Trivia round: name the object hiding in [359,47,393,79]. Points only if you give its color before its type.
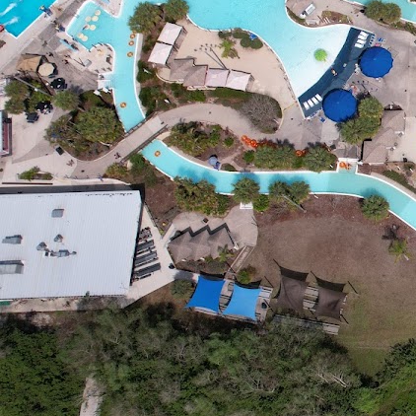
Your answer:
blue umbrella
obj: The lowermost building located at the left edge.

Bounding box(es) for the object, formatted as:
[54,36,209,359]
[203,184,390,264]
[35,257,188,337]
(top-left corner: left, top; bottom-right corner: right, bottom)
[0,191,143,302]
